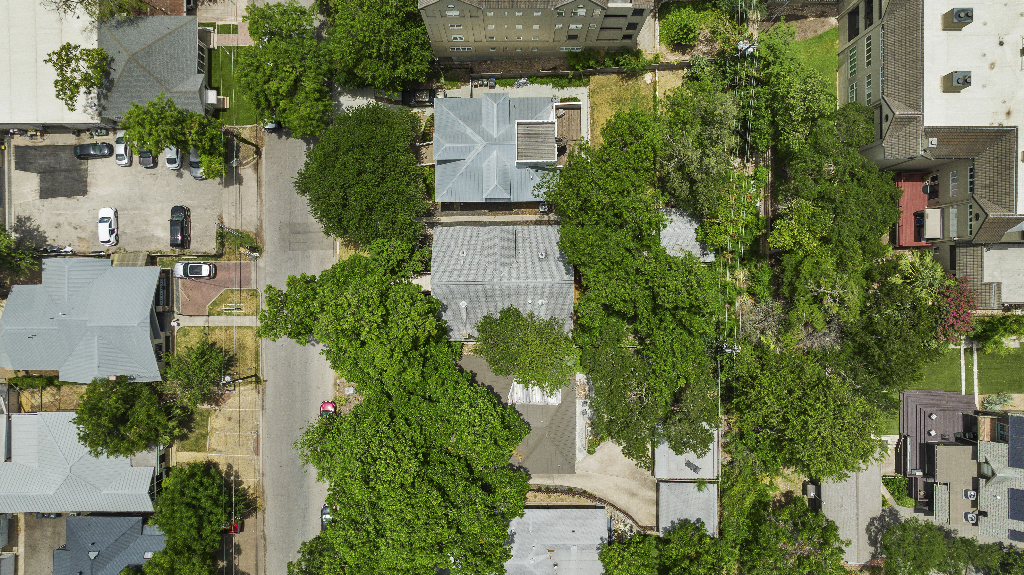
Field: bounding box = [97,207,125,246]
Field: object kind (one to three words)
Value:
car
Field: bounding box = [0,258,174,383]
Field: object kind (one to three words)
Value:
house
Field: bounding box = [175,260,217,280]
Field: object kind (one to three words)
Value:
car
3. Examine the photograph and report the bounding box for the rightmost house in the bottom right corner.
[923,409,1024,541]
